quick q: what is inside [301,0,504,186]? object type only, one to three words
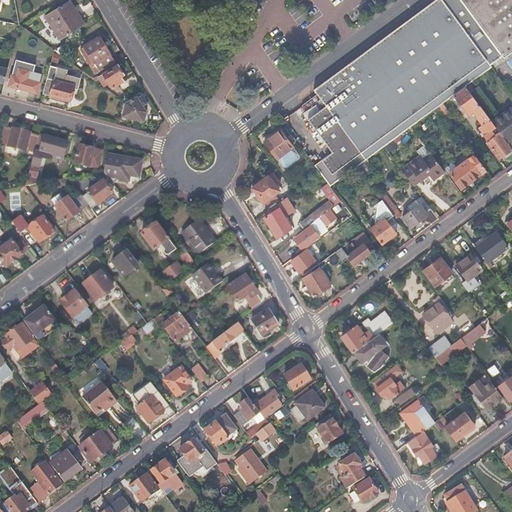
warehouse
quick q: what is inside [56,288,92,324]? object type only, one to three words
house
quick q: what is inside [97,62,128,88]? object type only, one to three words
house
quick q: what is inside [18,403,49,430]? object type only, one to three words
shed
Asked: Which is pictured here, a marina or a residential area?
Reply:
residential area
